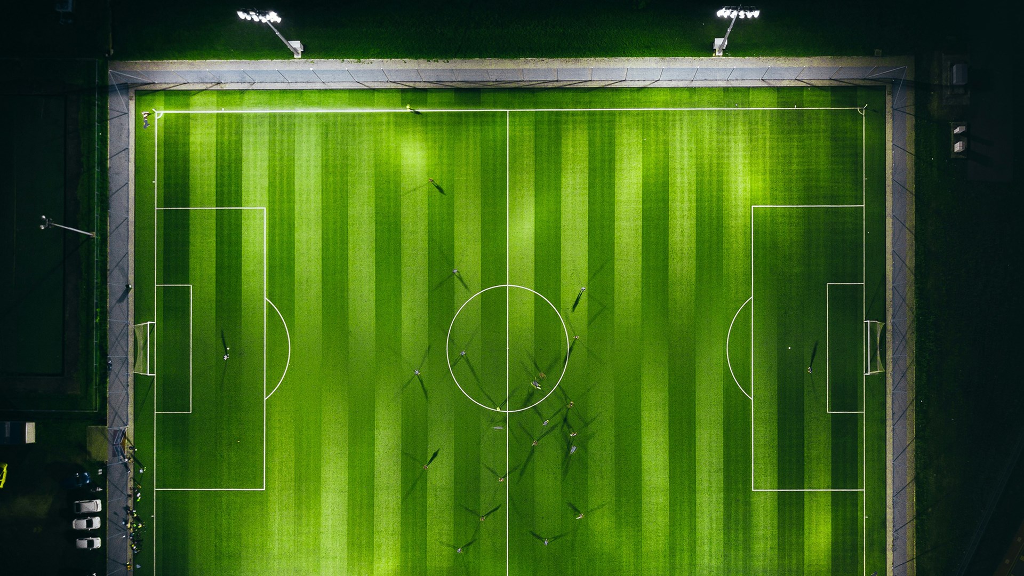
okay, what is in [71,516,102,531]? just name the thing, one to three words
car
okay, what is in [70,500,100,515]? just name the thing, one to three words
car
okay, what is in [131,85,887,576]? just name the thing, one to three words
soccer field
